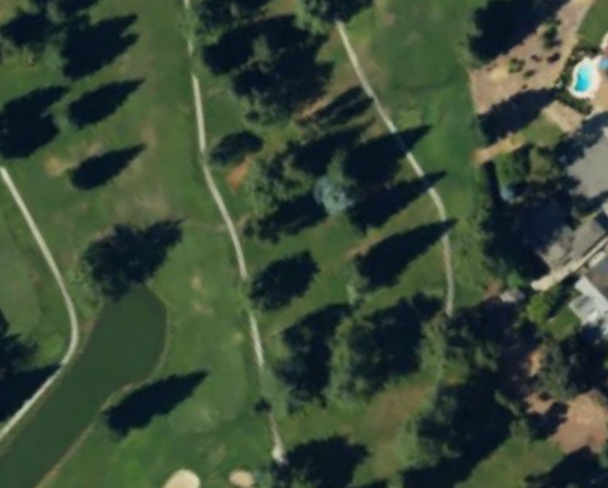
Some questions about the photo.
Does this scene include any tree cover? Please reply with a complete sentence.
Yes, some tree cover is visible.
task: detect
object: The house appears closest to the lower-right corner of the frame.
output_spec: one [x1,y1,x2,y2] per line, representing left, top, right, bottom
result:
[569,276,608,326]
